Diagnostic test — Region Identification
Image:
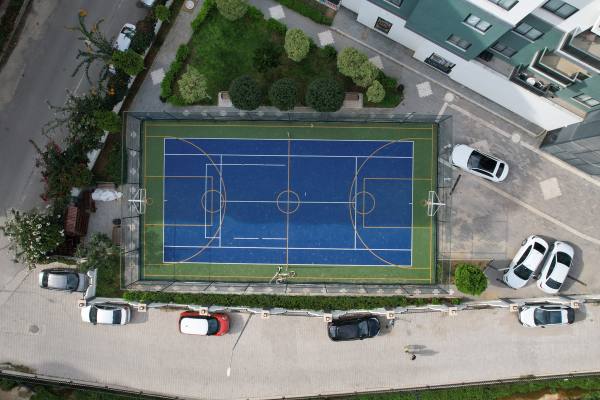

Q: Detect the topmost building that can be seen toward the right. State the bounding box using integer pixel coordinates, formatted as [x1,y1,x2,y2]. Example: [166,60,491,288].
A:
[339,0,600,182]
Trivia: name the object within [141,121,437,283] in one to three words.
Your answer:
sports court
